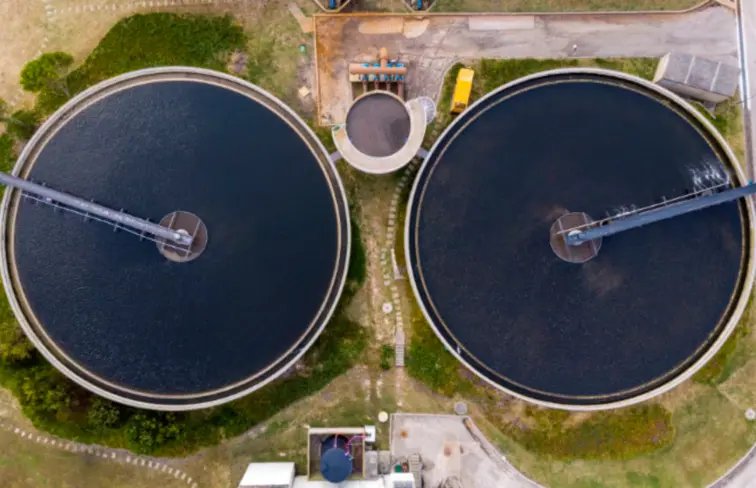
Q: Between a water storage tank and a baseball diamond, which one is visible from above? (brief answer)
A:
water storage tank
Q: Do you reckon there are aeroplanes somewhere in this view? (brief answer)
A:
No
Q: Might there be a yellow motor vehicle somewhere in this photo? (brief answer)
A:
Yes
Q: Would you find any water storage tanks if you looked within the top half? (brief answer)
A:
Yes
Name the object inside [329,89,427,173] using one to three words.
water tank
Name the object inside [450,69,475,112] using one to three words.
vehicle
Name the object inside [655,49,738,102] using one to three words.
shed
